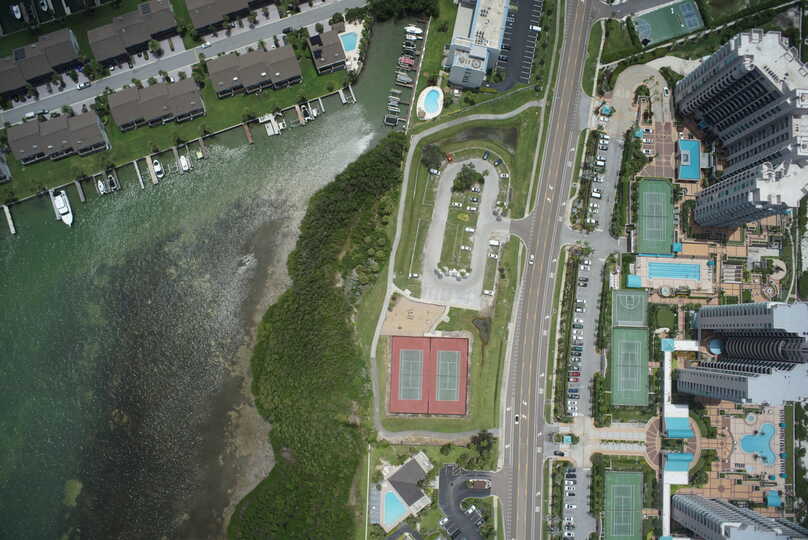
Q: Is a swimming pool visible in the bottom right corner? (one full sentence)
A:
Yes, the scene does show a swimming pool in the bottom right corner.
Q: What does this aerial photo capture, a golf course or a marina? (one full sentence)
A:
It's a marina.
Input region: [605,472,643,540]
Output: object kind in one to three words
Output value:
tennis court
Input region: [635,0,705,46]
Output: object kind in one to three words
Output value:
sports court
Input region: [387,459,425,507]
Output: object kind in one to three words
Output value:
house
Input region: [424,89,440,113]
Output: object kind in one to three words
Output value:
swimming pool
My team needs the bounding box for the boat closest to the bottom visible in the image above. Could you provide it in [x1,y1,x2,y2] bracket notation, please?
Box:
[52,189,69,225]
